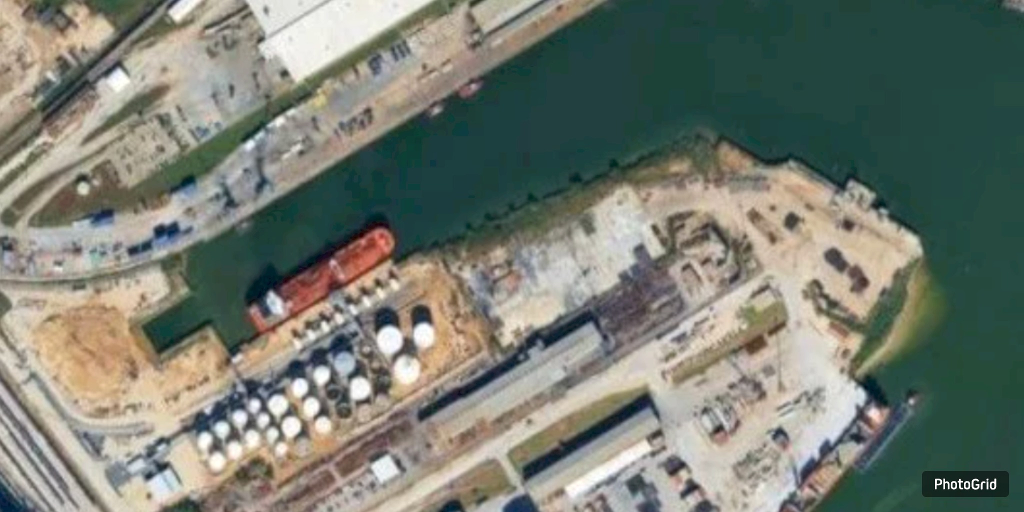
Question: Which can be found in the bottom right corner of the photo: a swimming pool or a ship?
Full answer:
It is a ship that can be seen in the bottom right corner of the photo.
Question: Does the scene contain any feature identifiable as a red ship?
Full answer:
Yes, the picture does show a red ship.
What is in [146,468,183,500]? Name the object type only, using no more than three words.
building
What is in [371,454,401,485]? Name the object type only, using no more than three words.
building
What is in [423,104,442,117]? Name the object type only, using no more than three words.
boat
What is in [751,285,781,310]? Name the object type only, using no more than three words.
shed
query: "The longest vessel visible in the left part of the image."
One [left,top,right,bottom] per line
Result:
[248,228,396,334]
